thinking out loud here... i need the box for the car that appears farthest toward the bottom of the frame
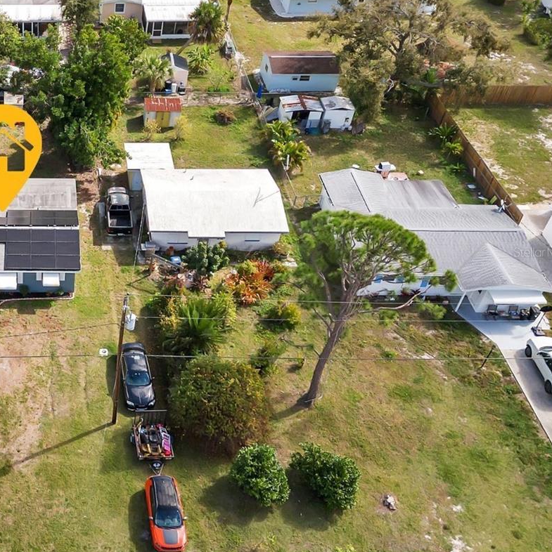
[144,469,192,551]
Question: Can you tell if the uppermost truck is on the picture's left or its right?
left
